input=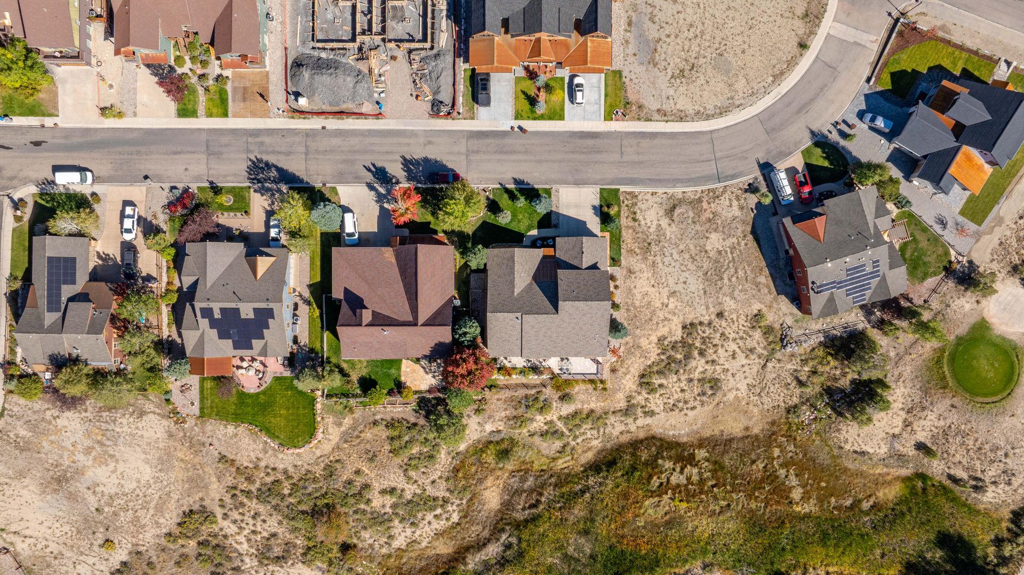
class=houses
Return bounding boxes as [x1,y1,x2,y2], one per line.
[486,237,612,358]
[774,184,908,319]
[178,242,293,378]
[333,235,454,359]
[114,0,268,73]
[887,73,1024,196]
[0,0,91,68]
[13,235,126,376]
[469,0,611,73]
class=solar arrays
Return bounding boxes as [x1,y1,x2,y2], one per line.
[200,308,274,350]
[47,257,76,312]
[817,259,880,306]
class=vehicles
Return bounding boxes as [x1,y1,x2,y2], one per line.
[121,250,138,280]
[860,112,895,135]
[770,168,793,205]
[794,172,814,204]
[53,169,96,185]
[343,211,359,246]
[476,73,491,108]
[572,75,587,107]
[267,214,283,248]
[120,205,139,241]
